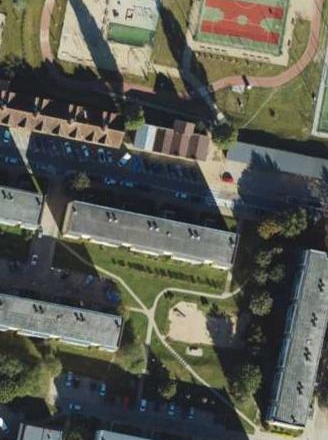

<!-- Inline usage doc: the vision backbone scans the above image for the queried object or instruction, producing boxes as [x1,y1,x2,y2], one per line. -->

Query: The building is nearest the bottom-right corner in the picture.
[270,249,328,426]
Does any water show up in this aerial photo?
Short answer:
No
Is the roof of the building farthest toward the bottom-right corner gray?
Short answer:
Yes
